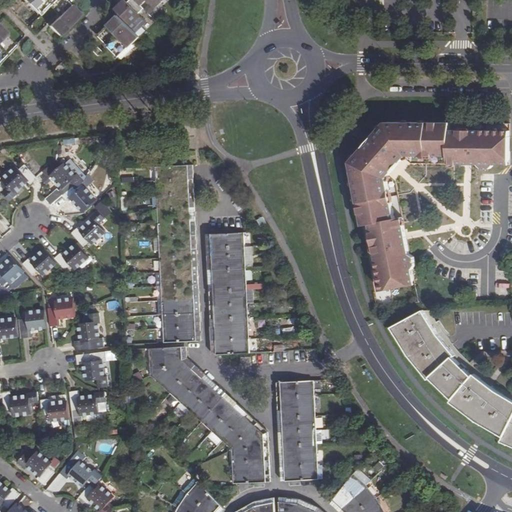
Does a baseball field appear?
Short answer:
No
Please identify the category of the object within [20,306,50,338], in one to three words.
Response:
house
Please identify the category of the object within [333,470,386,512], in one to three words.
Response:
building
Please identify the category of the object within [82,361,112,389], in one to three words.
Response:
house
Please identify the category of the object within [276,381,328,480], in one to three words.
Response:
building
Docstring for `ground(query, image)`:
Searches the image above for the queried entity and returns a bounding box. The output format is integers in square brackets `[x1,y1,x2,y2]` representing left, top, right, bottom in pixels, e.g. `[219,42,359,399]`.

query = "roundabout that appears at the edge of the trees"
[222,0,349,124]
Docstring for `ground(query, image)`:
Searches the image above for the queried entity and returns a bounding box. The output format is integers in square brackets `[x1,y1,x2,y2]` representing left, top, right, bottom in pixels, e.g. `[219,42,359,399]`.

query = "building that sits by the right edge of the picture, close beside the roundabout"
[346,122,510,300]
